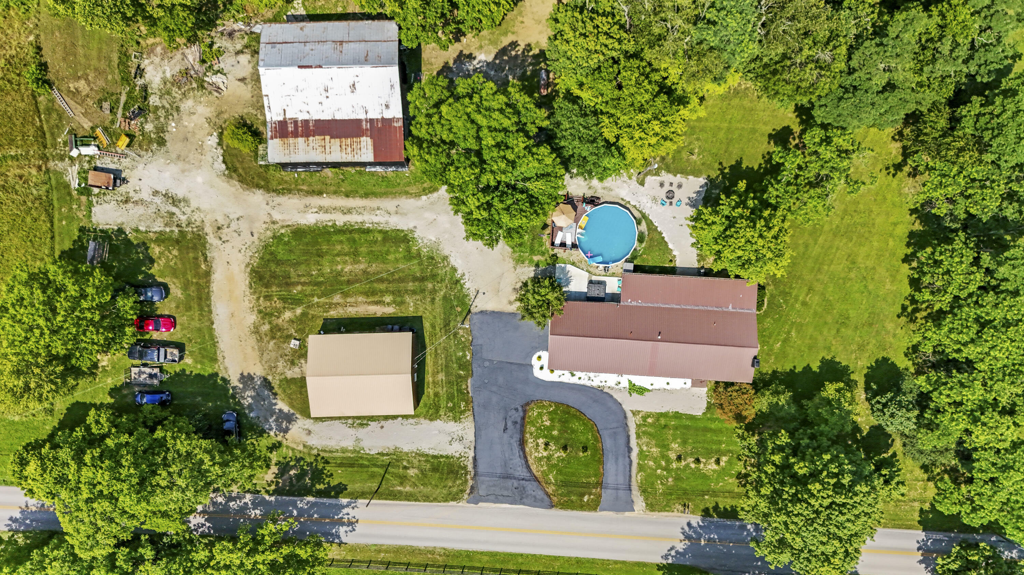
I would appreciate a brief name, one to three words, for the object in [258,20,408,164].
barn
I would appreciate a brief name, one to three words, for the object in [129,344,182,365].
truck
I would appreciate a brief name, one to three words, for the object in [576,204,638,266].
swimming pool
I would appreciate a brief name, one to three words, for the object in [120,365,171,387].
trailer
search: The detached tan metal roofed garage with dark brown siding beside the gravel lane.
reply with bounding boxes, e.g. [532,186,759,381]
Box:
[306,332,417,418]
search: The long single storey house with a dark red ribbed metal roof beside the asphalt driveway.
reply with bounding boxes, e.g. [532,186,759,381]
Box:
[548,272,761,384]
